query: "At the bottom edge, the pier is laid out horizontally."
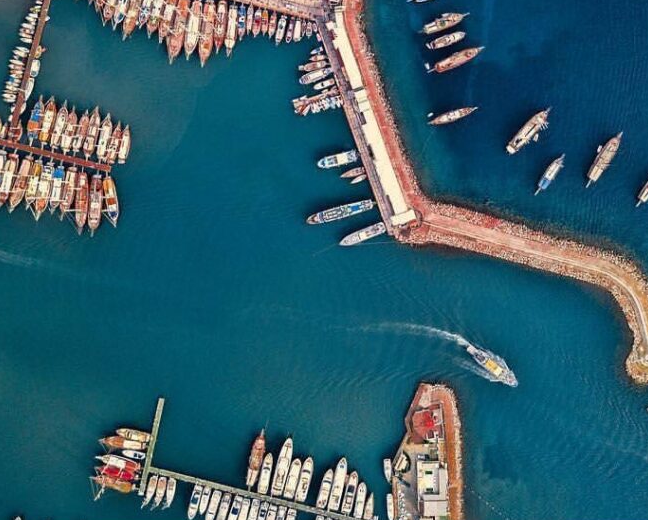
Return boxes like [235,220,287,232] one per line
[150,466,356,520]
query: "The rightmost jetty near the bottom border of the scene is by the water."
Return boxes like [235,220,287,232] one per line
[391,383,466,520]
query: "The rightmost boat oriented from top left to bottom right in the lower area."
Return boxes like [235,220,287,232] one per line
[464,345,520,388]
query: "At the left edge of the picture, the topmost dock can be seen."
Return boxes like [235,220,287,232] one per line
[8,0,50,143]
